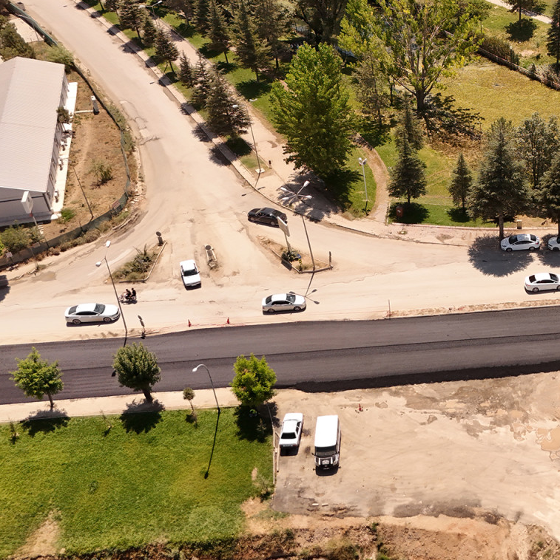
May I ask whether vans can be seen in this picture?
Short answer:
Yes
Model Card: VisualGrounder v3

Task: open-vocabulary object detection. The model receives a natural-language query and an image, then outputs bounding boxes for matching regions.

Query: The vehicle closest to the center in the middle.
[260,292,307,313]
